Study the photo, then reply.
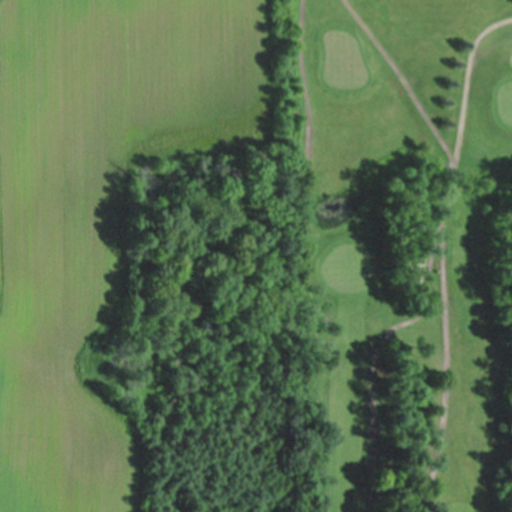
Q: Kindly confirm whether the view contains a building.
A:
No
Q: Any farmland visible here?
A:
Yes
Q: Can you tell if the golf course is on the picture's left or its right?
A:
right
